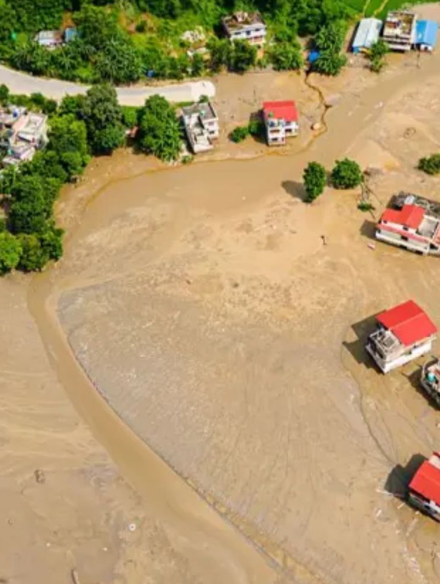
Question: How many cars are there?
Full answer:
Not a single car can be seen.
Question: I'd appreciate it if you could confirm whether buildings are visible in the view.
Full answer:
Yes, looking at the shot, I can spot a building.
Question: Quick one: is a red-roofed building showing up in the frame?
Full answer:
Yes, I can see a red-roofed building in this picture.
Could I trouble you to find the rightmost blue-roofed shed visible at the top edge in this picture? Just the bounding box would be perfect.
[416,20,437,54]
